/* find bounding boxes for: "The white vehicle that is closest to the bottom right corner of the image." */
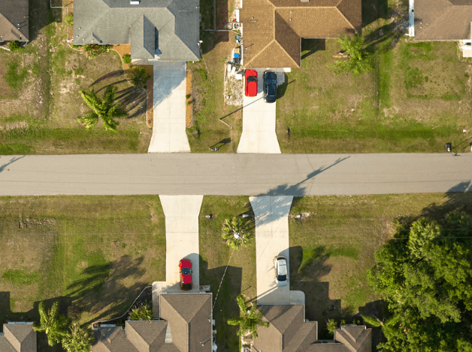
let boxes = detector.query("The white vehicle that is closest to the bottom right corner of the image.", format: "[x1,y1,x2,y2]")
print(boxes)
[274,255,291,287]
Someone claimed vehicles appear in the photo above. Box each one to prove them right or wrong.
[244,70,260,97]
[262,71,279,103]
[178,259,194,291]
[274,255,291,287]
